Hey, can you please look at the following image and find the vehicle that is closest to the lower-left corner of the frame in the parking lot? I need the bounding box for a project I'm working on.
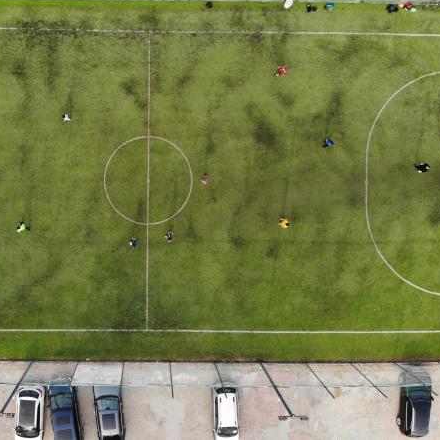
[8,382,44,440]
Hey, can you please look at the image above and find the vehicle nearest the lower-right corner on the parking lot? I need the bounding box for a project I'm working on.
[396,366,437,440]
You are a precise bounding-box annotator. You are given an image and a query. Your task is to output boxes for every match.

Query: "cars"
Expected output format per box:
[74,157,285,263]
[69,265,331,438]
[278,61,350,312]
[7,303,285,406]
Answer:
[91,384,126,440]
[8,382,44,440]
[396,366,437,440]
[45,373,82,440]
[212,380,244,440]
